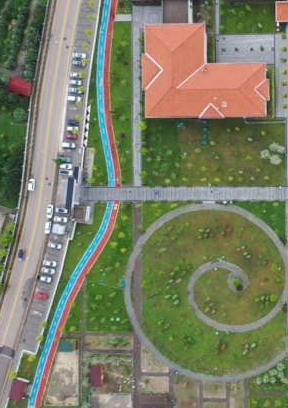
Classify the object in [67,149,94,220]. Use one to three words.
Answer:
house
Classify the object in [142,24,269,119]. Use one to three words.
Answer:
house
